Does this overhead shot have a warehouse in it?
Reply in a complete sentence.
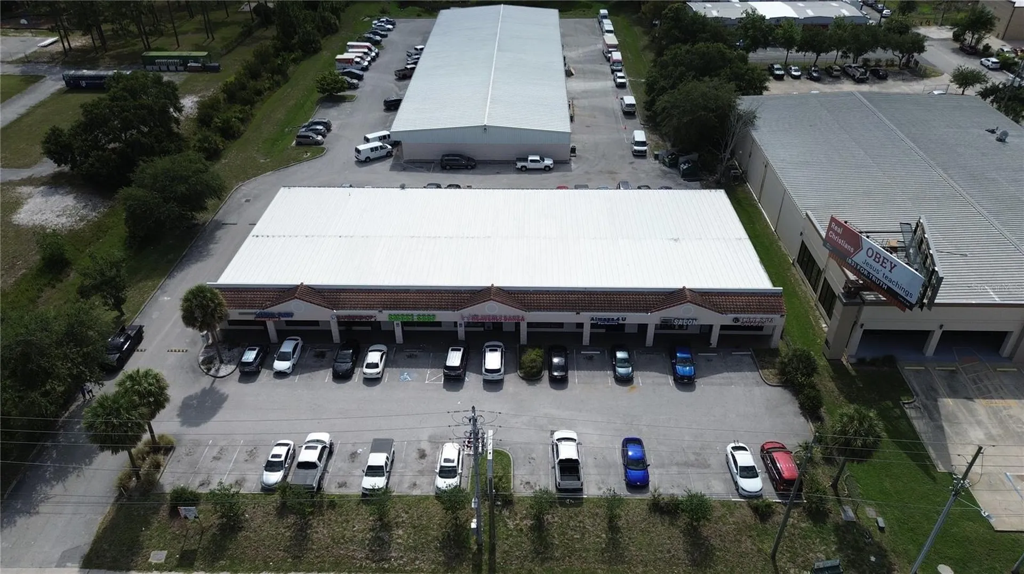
Yes, there's a warehouse down there.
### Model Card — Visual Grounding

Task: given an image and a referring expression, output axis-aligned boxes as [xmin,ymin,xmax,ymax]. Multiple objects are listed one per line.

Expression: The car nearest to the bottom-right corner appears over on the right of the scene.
[760,445,801,496]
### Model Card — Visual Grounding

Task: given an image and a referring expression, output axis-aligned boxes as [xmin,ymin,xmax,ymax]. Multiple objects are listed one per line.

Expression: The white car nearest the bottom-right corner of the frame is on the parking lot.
[725,445,762,501]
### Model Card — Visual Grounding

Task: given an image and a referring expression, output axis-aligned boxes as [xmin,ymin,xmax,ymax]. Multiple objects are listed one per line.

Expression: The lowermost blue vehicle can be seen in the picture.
[620,438,651,492]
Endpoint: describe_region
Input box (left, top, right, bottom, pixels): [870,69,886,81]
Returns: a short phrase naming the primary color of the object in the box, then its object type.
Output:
black vehicle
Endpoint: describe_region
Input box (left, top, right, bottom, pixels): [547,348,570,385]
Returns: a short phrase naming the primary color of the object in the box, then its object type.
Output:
black car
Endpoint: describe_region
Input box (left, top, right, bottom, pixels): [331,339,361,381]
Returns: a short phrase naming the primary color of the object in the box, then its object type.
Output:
black car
